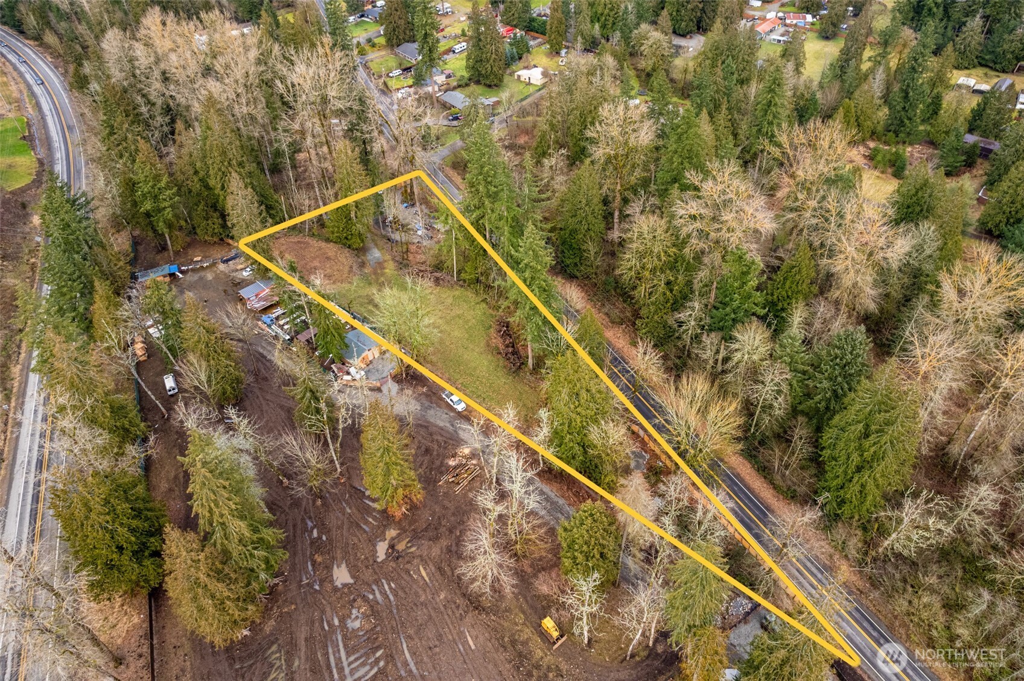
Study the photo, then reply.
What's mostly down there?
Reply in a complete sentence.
Most of the picture is covered by trees.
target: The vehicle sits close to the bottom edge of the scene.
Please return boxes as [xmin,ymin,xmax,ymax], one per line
[539,612,571,650]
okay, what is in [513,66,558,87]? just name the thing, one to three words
shed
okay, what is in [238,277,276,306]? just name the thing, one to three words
shed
